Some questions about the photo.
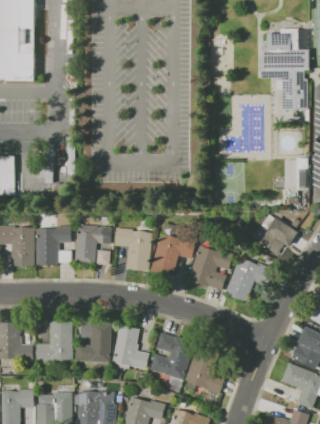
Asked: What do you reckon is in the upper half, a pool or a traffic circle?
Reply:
pool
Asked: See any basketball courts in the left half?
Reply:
No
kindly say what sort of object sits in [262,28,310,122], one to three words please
building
